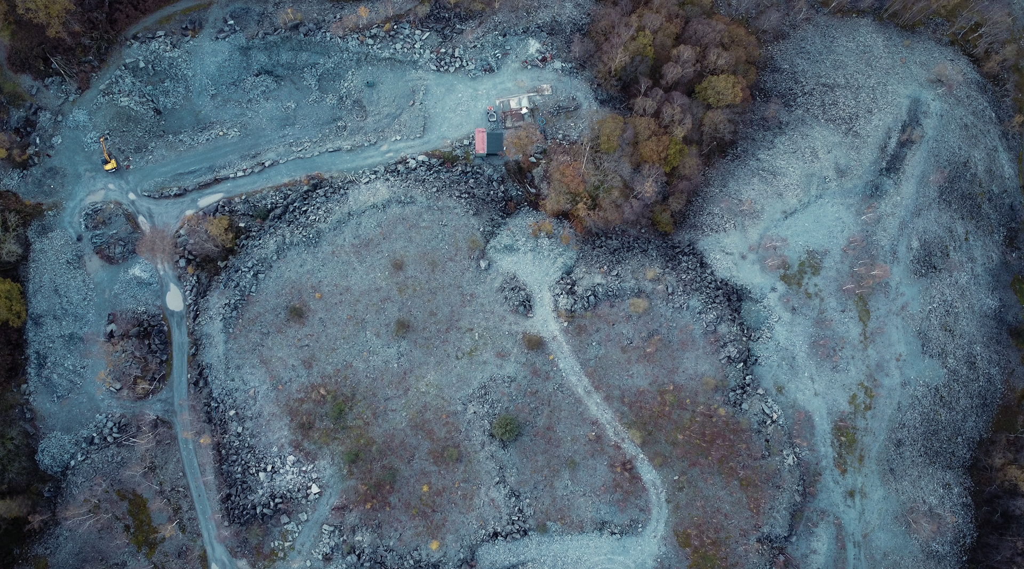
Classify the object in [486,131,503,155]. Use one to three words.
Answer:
shed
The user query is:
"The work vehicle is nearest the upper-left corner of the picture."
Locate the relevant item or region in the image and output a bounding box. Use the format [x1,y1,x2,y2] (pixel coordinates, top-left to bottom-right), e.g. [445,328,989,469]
[99,138,121,175]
